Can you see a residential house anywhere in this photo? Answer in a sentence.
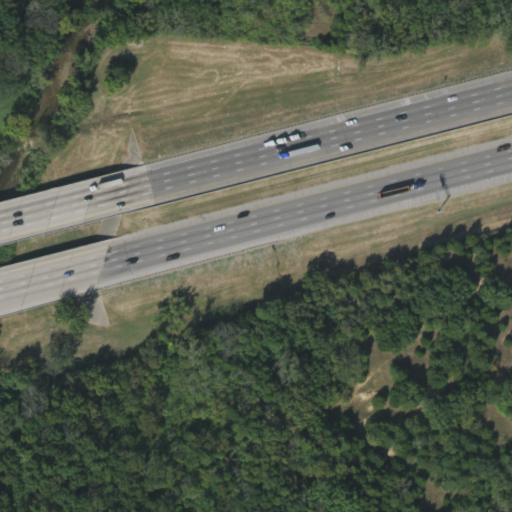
No, I can see no residential house in this picture.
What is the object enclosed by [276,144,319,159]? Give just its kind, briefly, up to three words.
vehicle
